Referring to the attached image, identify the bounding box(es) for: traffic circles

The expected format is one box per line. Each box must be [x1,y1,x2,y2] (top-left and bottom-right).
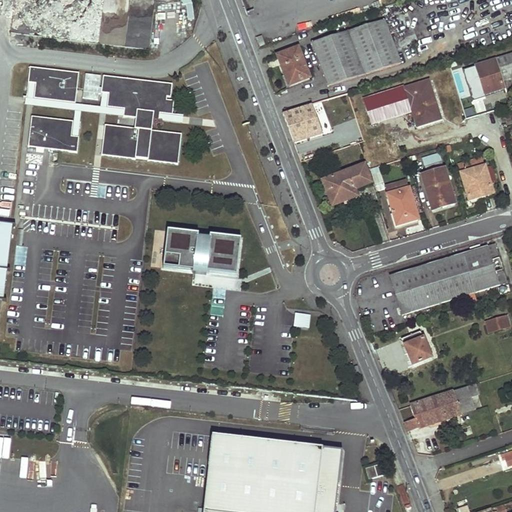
[306,248,354,299]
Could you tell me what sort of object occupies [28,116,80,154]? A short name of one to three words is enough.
building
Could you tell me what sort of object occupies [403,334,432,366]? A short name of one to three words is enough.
house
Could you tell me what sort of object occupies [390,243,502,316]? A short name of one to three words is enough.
shed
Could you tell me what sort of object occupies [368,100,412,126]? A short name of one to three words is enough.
barn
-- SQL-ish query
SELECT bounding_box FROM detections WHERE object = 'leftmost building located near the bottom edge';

[202,431,323,512]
